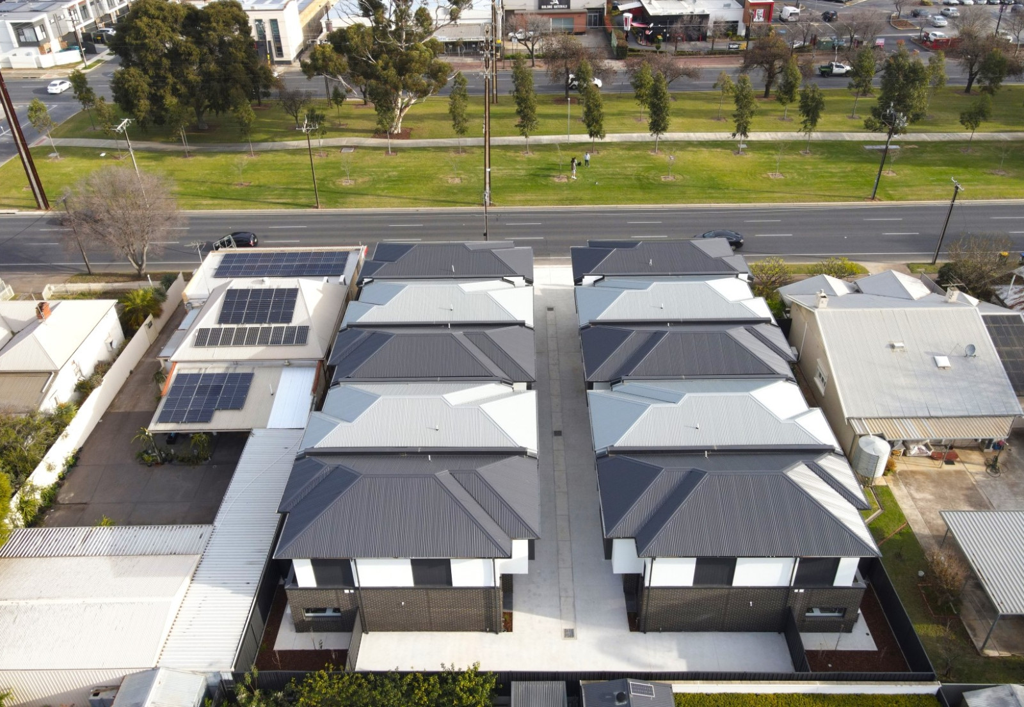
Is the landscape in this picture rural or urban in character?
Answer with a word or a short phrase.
urban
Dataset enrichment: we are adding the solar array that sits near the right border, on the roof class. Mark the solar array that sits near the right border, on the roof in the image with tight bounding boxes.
[983,322,1024,404]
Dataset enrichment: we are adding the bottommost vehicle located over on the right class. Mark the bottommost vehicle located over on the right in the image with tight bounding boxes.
[691,230,744,249]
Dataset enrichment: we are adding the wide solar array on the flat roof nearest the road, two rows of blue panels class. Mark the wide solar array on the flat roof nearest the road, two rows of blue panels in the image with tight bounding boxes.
[212,249,353,276]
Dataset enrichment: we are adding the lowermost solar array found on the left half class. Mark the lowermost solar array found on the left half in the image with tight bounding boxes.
[156,371,258,422]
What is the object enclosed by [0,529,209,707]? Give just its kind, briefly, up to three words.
shed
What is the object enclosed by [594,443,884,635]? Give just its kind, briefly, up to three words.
house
